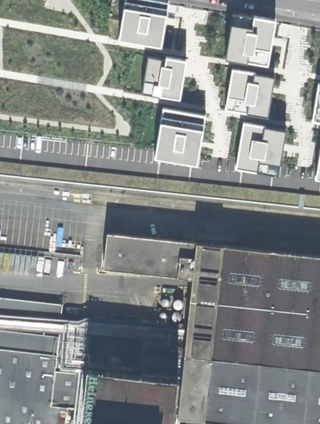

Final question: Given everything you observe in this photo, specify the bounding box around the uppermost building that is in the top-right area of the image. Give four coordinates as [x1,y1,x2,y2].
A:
[226,16,276,70]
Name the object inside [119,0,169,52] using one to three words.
building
